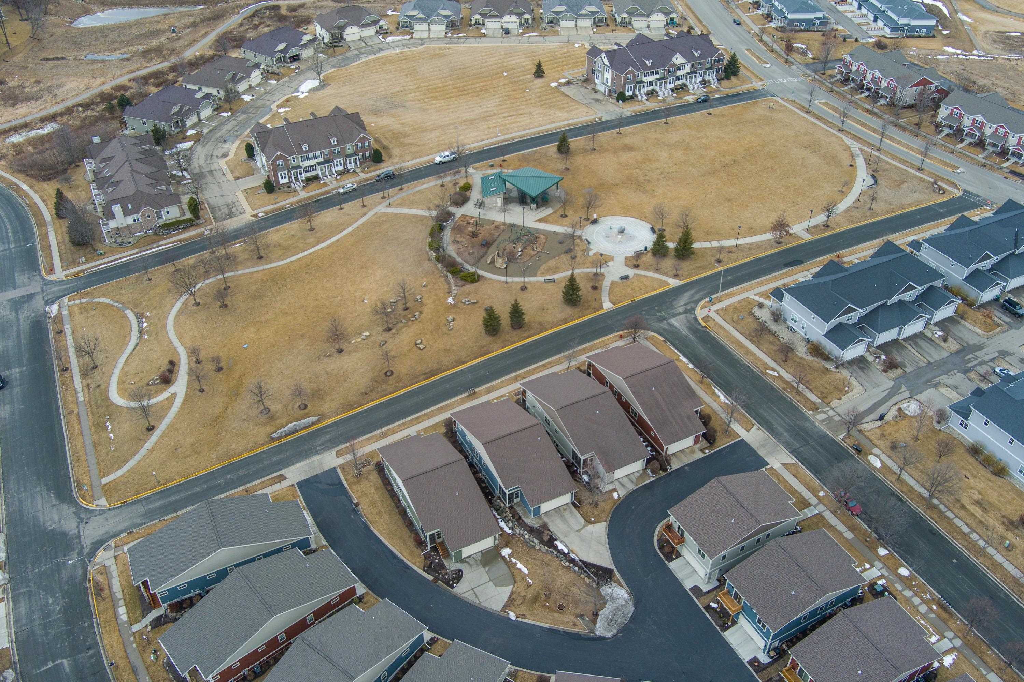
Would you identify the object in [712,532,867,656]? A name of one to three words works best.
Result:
house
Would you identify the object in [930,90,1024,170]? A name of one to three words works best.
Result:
house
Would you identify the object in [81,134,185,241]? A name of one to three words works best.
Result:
building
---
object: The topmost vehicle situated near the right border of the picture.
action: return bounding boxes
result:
[1004,295,1024,316]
